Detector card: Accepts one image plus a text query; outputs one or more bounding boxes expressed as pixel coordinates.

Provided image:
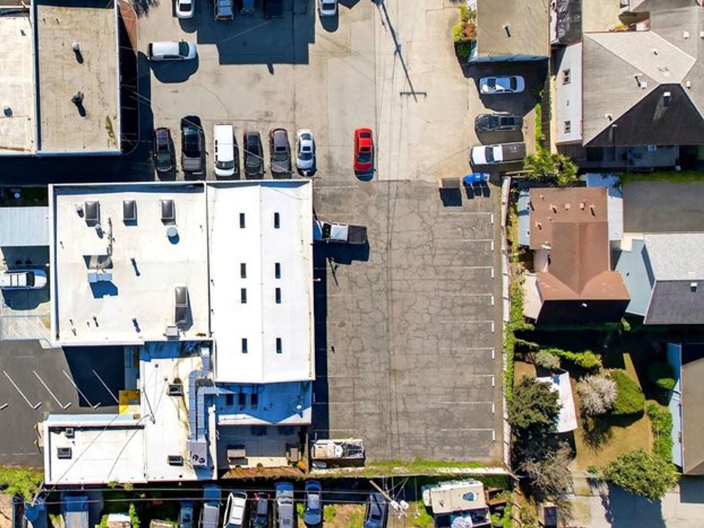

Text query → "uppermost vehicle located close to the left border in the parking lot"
[0,268,48,292]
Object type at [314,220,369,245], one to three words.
truck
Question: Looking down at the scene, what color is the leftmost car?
white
